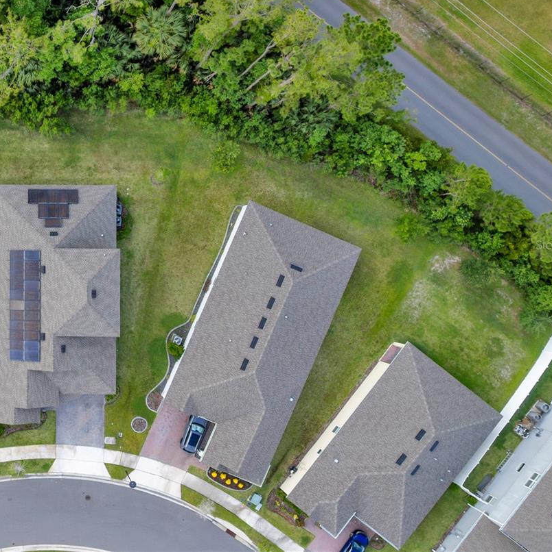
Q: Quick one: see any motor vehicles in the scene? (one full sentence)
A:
Yes, the photo shows a motor vehicle.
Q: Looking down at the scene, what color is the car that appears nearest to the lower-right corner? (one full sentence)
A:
From above, the car that appears nearest to the lower-right corner appears blue.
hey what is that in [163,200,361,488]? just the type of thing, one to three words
house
